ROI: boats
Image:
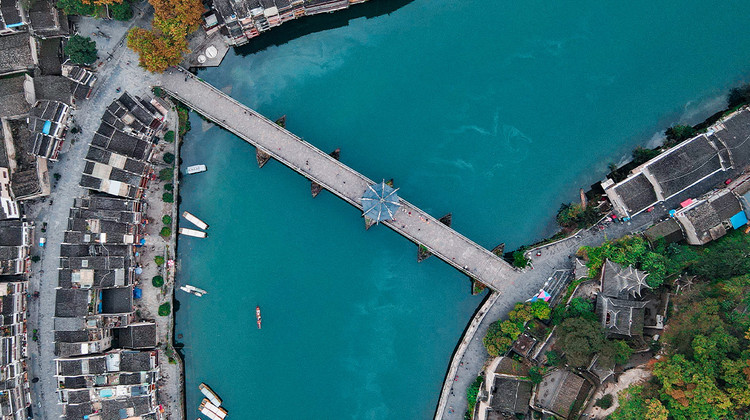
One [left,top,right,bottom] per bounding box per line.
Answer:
[198,383,223,408]
[178,287,201,297]
[183,285,207,294]
[196,406,220,420]
[185,165,207,173]
[201,398,229,420]
[178,229,207,237]
[182,212,208,229]
[256,307,261,328]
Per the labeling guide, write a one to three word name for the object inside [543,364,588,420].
building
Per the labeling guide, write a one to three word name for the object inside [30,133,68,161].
house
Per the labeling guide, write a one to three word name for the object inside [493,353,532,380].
house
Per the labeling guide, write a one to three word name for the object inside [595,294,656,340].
building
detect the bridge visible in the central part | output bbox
[157,64,516,293]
